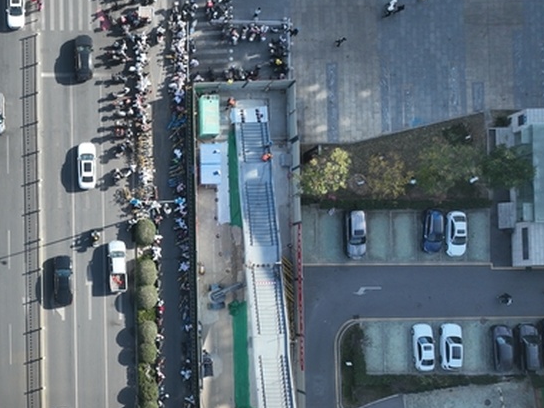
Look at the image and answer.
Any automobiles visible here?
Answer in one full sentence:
Yes, there is an automobile in the image.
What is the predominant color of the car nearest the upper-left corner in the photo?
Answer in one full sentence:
In this view, the car nearest the upper-left corner is white.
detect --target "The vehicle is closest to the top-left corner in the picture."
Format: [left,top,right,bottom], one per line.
[4,0,27,31]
